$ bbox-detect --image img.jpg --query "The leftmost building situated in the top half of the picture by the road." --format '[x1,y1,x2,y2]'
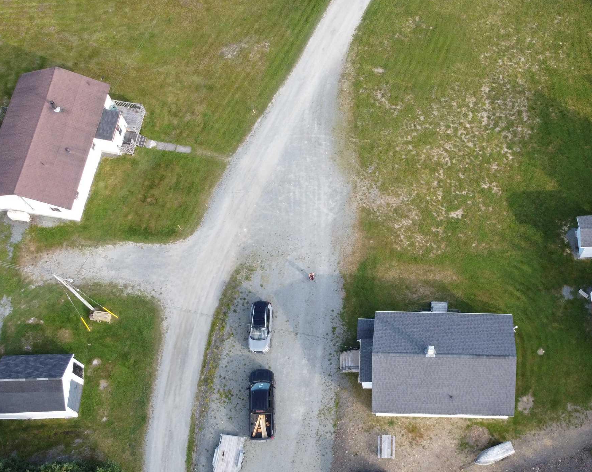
[0,66,129,222]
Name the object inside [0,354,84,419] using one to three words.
shed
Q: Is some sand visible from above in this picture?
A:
No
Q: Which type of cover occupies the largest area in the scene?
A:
grass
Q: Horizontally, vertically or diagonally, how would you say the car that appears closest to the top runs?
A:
vertically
